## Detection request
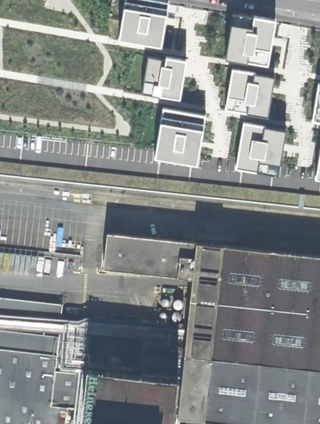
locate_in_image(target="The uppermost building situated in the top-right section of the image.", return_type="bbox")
[226,16,276,70]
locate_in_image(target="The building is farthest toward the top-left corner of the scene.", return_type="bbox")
[119,0,169,52]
